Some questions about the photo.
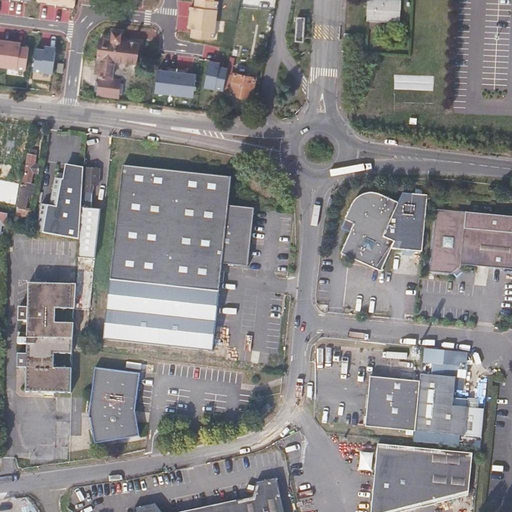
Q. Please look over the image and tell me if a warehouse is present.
Yes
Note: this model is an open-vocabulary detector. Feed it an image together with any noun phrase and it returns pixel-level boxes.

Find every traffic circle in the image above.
[289,118,350,180]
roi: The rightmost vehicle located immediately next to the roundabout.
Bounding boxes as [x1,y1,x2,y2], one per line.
[329,160,372,176]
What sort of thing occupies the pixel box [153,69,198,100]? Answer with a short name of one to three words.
house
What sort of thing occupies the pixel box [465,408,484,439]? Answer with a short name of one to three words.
building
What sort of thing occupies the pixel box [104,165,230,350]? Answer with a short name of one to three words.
warehouse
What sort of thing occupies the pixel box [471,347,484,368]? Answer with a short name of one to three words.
vehicle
